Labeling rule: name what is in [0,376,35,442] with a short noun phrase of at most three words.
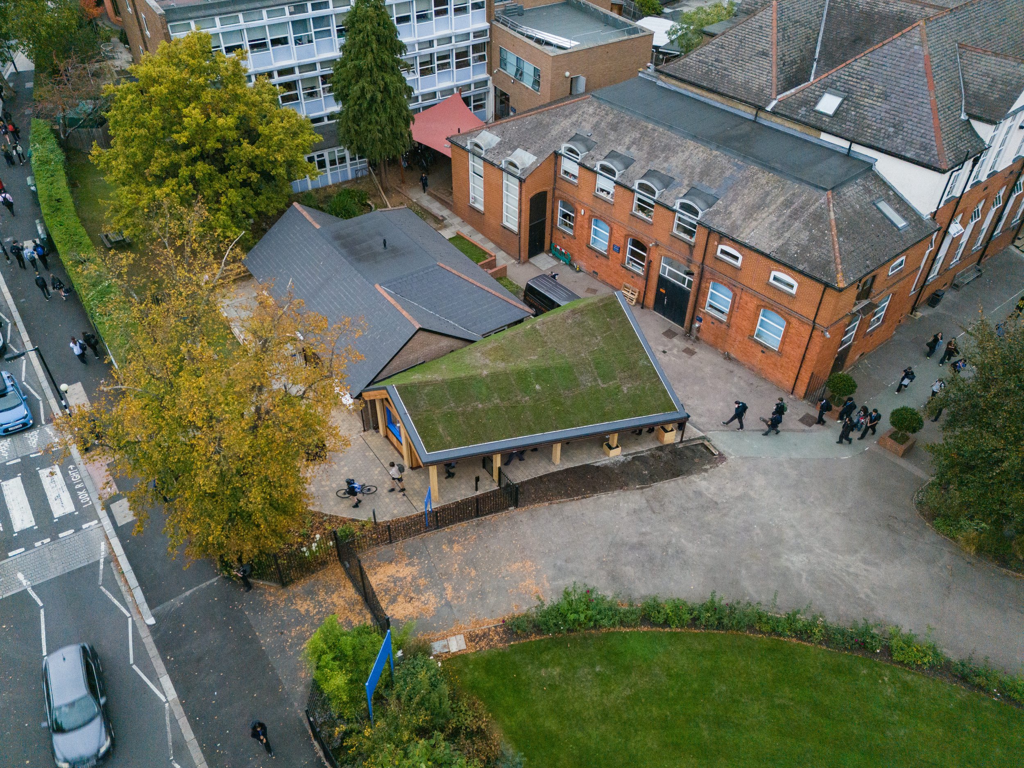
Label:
car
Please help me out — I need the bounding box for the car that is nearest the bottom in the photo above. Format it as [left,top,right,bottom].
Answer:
[38,634,117,768]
